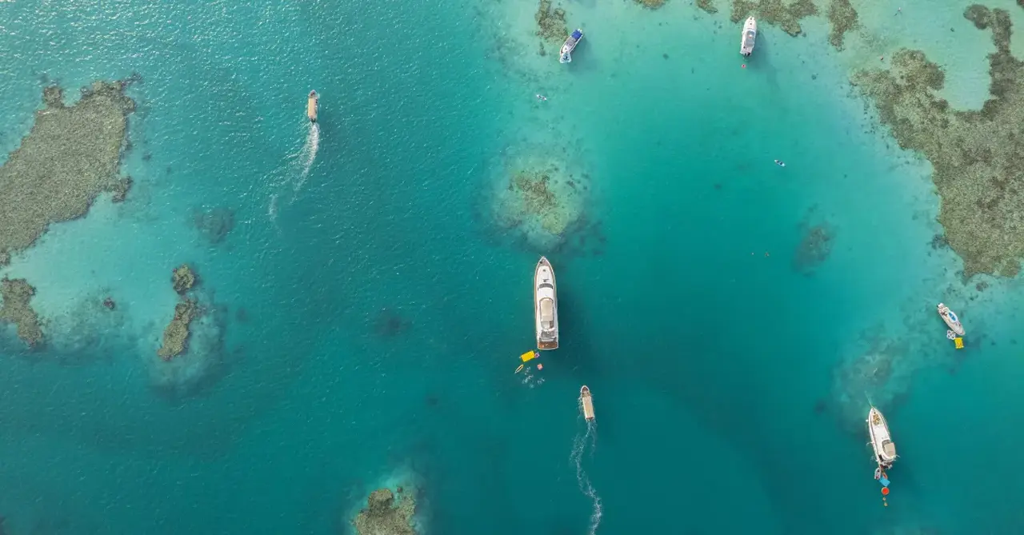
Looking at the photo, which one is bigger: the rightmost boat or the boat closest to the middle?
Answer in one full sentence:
Compared with the rightmost boat, the boat closest to the middle is the larger one.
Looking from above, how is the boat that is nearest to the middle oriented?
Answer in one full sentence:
Seen from above, the boat that is nearest to the middle lies up and down.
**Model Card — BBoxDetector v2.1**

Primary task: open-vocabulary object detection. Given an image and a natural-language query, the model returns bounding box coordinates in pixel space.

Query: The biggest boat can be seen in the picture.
[534,252,558,350]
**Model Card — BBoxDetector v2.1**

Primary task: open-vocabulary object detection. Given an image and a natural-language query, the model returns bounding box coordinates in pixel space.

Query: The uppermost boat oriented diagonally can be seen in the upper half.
[563,27,582,54]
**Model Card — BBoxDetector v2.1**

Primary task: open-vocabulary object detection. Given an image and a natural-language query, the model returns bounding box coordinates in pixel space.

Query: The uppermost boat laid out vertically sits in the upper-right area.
[740,16,756,57]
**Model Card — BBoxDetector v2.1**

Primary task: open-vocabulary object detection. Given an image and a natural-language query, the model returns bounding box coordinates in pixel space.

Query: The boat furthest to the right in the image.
[934,306,965,333]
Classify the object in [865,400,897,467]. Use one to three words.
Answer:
boat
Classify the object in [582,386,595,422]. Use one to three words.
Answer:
boat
